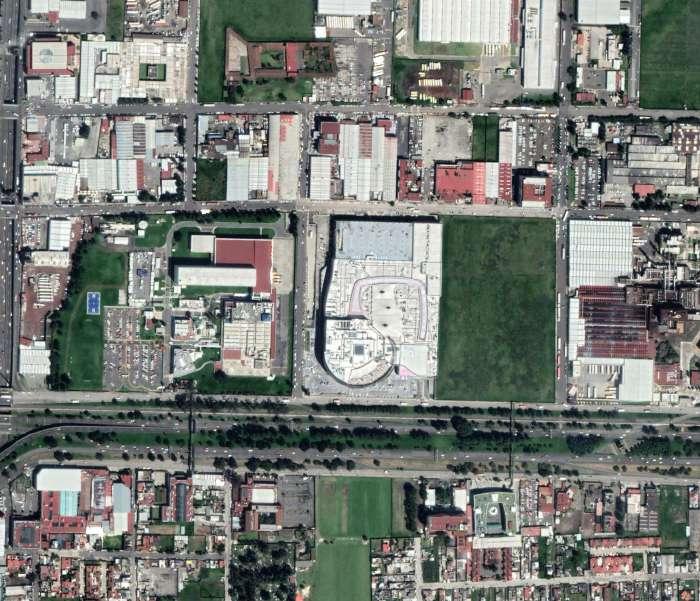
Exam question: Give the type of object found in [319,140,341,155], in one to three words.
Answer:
building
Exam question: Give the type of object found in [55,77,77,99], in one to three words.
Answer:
shed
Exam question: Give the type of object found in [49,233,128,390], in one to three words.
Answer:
soccer field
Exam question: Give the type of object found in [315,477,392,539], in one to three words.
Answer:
soccer field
